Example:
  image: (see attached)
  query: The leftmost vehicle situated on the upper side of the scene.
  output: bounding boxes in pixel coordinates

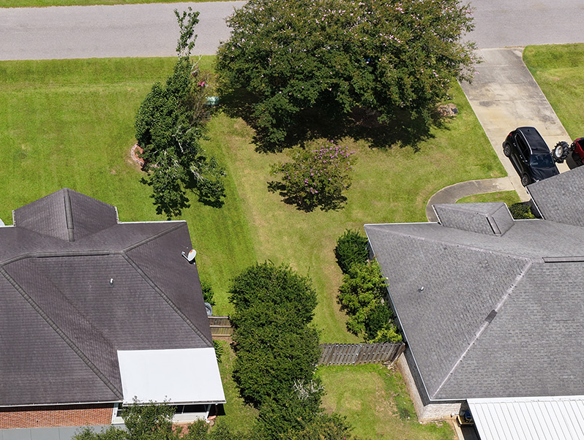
[506,127,567,187]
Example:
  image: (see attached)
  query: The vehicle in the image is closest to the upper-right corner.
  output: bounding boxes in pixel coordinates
[555,122,584,159]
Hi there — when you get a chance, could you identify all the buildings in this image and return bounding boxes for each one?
[0,187,224,434]
[365,163,584,424]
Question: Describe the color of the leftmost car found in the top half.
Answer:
black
